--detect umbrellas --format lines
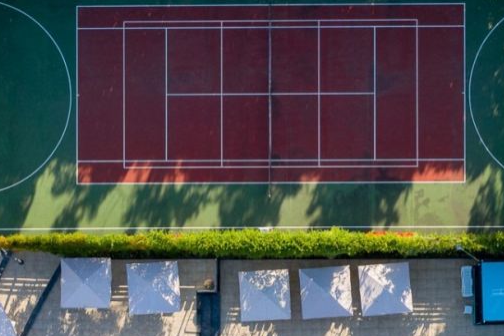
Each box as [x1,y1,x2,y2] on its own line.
[300,266,352,319]
[239,270,291,322]
[358,262,412,316]
[60,257,111,309]
[127,261,181,316]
